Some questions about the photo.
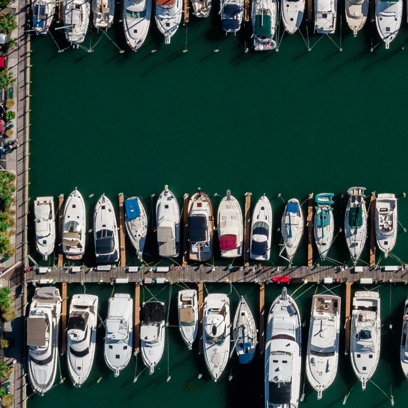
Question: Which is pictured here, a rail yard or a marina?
marina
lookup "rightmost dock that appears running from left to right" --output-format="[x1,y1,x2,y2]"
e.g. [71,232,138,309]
[30,264,408,282]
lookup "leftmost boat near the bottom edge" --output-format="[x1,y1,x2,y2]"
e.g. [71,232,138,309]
[25,285,62,402]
